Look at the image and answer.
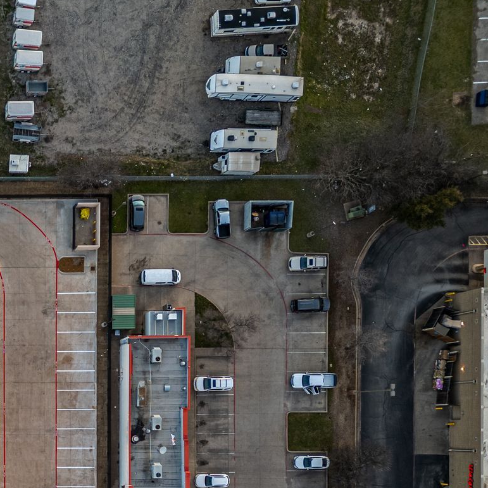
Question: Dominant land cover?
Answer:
paved ground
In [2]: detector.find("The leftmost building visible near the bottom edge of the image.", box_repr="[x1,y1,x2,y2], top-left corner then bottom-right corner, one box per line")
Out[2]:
[118,304,190,488]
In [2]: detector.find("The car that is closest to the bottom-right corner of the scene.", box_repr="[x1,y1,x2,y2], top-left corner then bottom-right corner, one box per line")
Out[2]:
[292,454,330,470]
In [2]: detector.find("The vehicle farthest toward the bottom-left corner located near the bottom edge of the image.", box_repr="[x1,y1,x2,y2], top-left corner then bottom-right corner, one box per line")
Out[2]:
[194,473,230,488]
